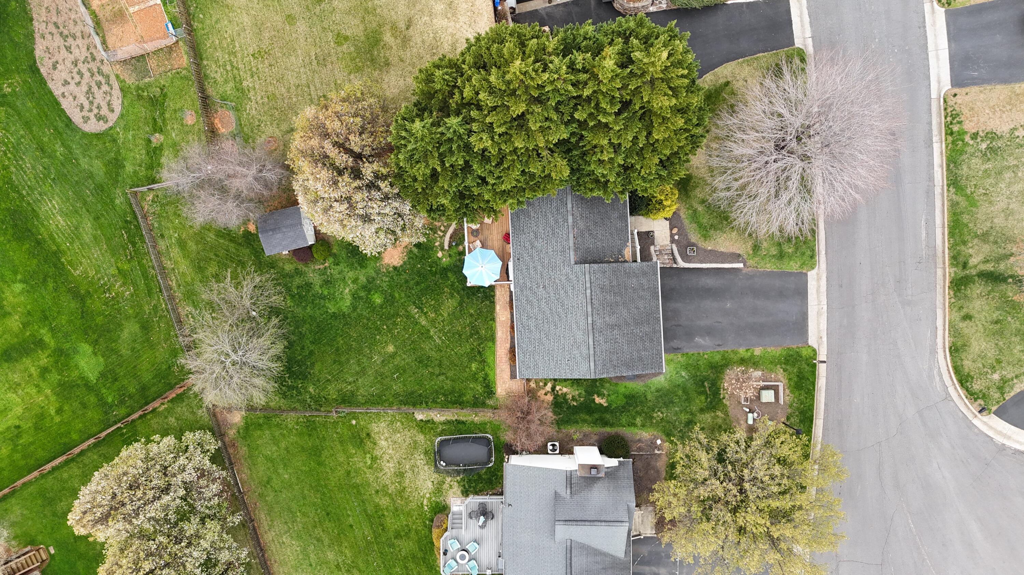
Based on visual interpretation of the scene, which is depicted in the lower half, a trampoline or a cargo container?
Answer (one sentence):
There is a trampoline in the lower half.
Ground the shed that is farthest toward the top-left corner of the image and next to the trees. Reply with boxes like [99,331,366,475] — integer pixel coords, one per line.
[257,205,316,255]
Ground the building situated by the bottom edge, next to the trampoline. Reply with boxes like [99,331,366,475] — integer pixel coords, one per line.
[499,445,635,575]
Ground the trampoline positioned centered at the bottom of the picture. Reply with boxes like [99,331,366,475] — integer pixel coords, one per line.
[434,433,494,478]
